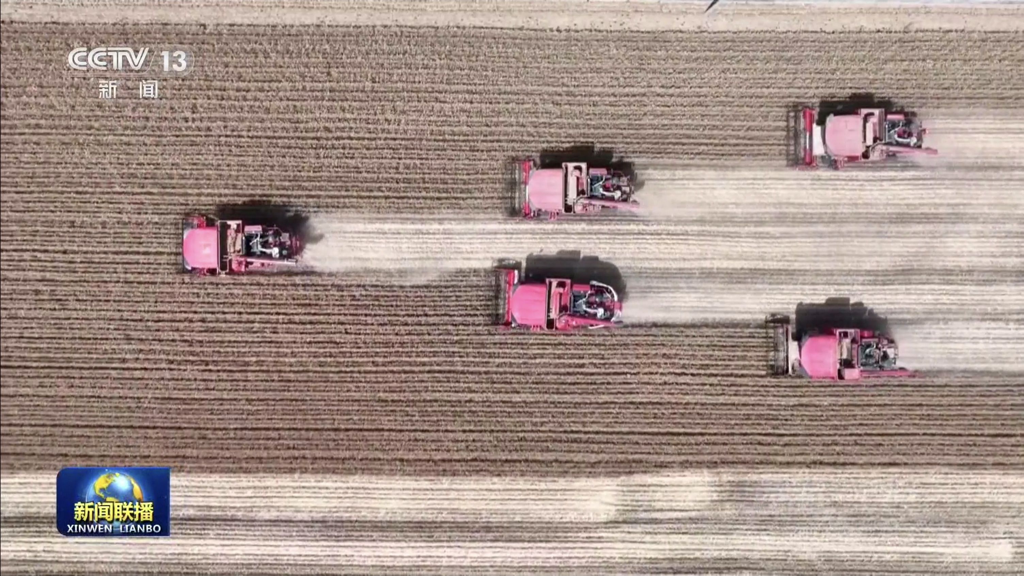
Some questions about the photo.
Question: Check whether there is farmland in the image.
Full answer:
Yes, the picture does contain farmland.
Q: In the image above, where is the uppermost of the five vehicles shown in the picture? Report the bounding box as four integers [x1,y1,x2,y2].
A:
[782,107,939,171]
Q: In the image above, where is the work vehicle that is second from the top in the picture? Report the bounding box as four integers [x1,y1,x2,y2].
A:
[506,161,642,222]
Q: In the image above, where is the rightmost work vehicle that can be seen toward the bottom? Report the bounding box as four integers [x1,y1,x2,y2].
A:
[765,322,913,381]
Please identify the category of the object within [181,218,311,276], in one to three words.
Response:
work vehicle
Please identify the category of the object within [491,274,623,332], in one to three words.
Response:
work vehicle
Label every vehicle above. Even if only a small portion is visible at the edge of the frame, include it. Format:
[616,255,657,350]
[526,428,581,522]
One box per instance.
[491,274,623,332]
[181,218,311,276]
[506,161,642,222]
[765,322,913,381]
[782,107,939,171]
